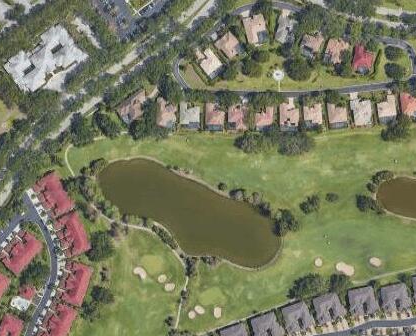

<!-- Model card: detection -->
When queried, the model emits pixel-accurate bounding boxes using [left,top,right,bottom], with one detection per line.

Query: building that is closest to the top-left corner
[3,22,89,92]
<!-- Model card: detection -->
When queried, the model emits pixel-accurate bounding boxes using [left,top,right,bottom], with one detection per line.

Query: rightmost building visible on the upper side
[401,93,416,118]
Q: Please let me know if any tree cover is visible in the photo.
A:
Yes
